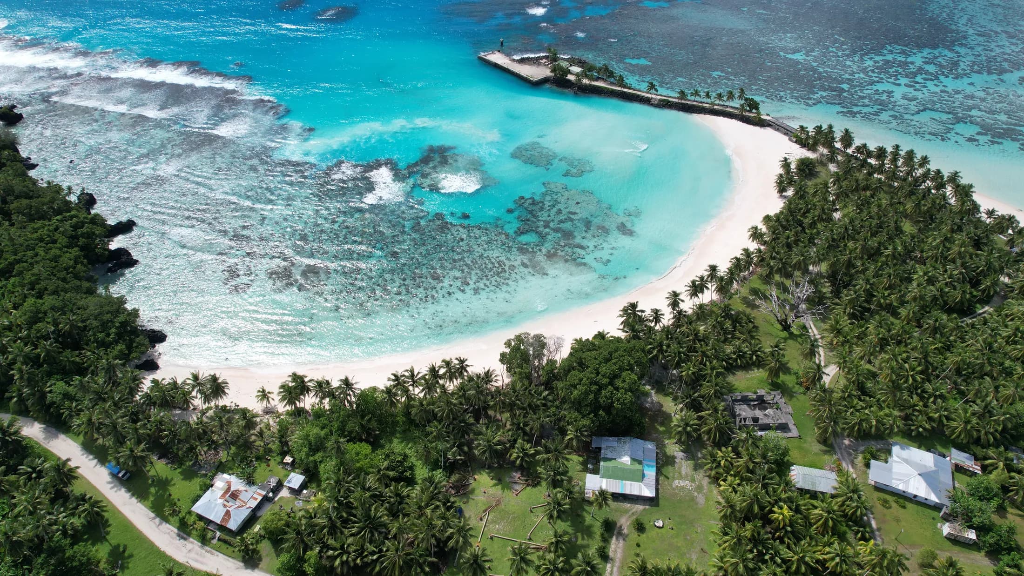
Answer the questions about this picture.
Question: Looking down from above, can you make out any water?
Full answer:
Yes, water shows up in the scene.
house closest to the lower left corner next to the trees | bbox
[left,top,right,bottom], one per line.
[191,473,267,543]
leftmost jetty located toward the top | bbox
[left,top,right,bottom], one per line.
[479,50,556,84]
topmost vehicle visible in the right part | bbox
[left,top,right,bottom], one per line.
[926,444,951,459]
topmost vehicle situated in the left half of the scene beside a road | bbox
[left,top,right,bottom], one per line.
[104,459,131,478]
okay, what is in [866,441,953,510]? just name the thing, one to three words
house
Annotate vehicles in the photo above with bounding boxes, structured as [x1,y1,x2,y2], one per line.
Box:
[104,459,131,478]
[926,444,951,459]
